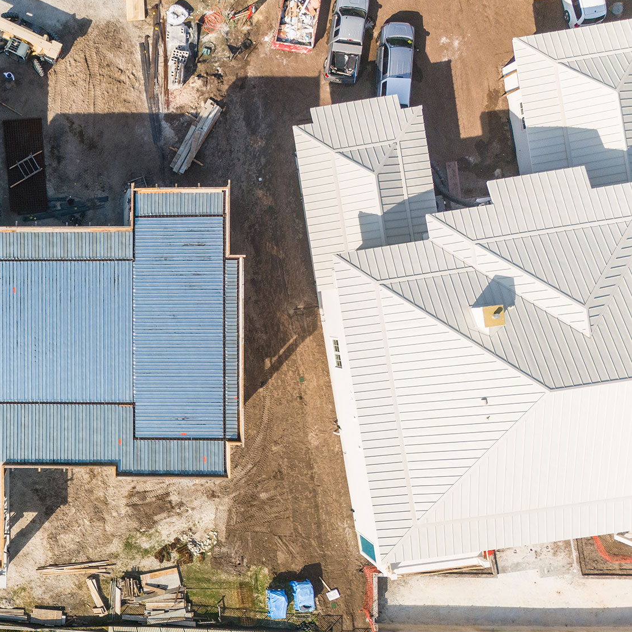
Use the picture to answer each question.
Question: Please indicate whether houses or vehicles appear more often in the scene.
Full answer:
There are more vehicles than houses.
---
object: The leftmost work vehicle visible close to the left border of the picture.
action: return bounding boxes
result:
[0,3,67,78]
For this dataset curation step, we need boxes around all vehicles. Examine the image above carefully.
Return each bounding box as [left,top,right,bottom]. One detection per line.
[558,0,610,29]
[321,0,375,90]
[0,3,67,78]
[373,24,419,108]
